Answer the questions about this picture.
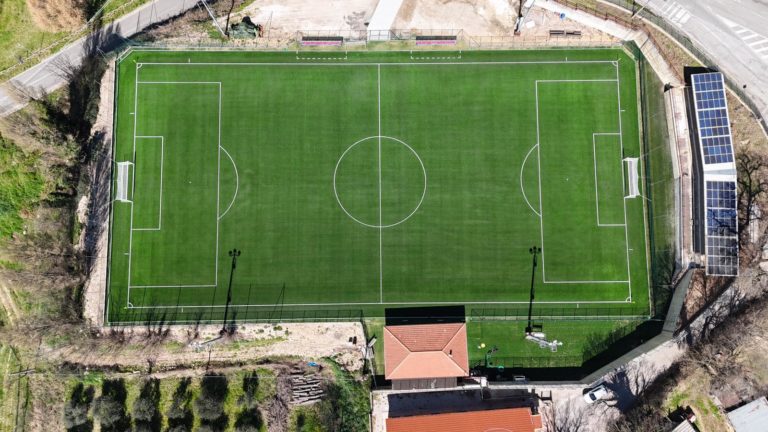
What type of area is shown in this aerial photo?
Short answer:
sports ground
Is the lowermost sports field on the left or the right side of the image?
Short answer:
right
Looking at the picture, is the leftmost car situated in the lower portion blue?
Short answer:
No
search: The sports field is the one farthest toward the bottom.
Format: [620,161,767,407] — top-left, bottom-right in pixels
[363,317,664,386]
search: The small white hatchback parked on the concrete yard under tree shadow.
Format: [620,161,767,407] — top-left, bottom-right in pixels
[584,386,608,406]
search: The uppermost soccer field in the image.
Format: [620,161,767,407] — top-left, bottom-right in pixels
[107,47,653,323]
